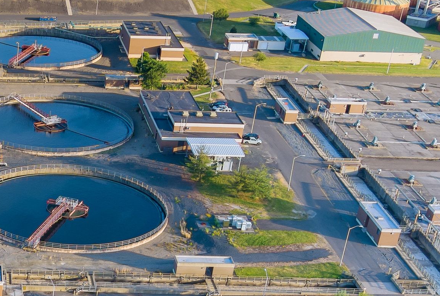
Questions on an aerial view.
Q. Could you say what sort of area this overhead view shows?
industrial area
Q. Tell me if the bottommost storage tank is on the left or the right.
left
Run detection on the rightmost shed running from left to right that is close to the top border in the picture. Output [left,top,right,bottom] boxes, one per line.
[306,6,426,63]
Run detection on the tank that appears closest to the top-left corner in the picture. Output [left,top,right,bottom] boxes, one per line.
[0,27,103,72]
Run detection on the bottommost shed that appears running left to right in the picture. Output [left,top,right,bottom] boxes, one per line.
[173,252,236,276]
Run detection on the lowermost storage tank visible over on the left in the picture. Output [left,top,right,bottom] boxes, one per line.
[0,164,167,258]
